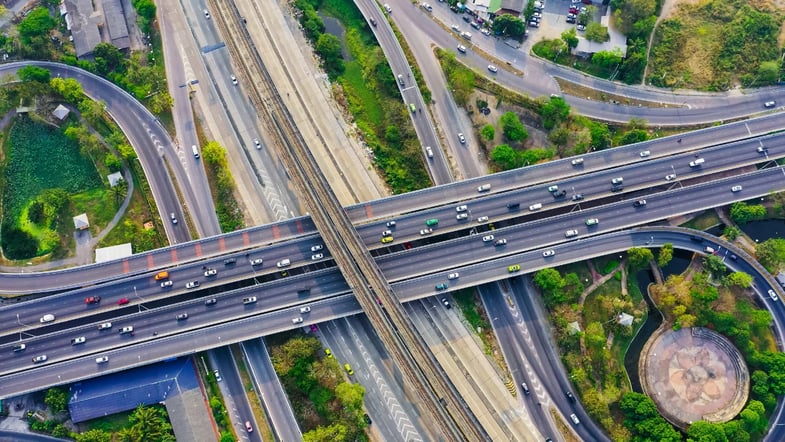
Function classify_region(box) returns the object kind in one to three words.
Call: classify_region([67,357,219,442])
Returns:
building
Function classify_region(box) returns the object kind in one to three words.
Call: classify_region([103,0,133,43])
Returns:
building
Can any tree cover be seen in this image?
Yes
